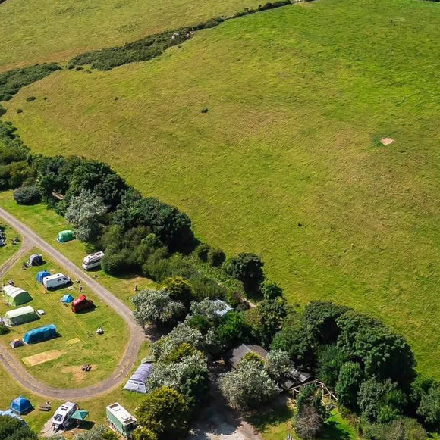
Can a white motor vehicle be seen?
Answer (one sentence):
Yes, looking at the shot, I can spot a white motor vehicle.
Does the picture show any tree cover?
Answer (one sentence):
Yes, tree cover shows up in the scene.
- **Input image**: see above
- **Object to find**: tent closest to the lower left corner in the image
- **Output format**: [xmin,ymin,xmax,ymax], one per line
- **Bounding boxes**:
[10,398,33,421]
